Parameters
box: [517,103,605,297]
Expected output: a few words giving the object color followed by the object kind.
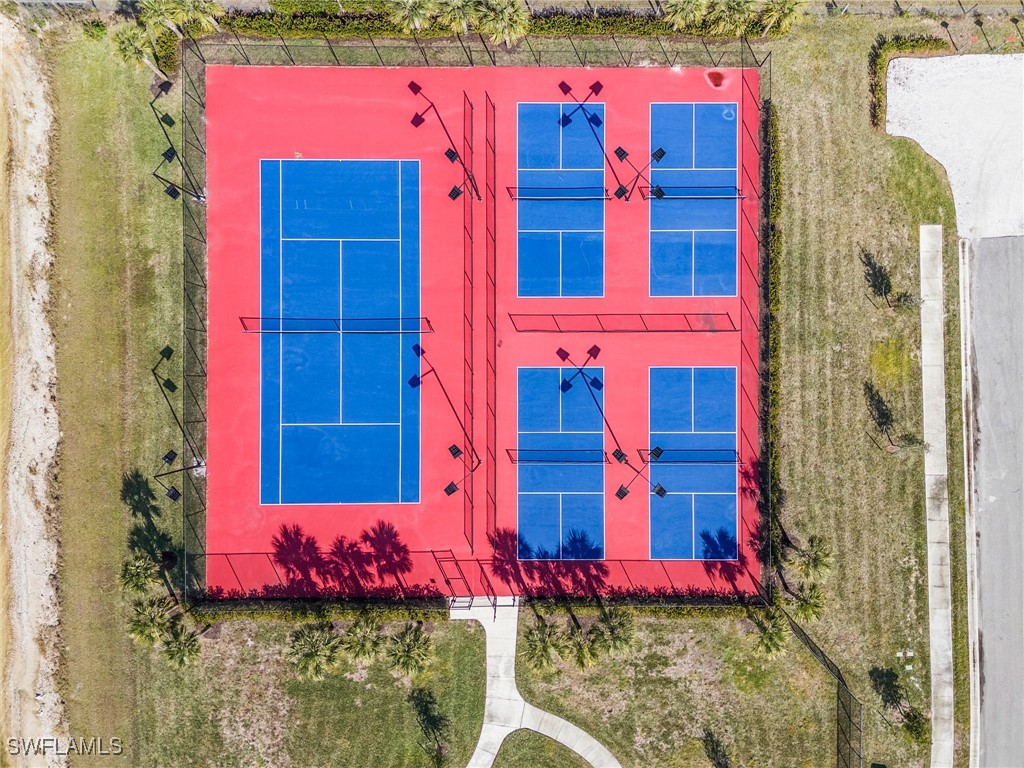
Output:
blue sports court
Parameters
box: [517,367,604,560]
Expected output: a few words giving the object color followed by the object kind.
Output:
blue sports court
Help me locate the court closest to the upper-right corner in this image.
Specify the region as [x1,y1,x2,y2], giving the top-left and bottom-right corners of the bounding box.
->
[650,103,738,297]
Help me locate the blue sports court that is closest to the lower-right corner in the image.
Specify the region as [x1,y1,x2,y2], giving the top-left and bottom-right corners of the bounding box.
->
[650,367,737,560]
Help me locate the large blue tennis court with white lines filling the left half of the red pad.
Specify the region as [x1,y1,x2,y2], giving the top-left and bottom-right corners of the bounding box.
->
[260,160,419,504]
